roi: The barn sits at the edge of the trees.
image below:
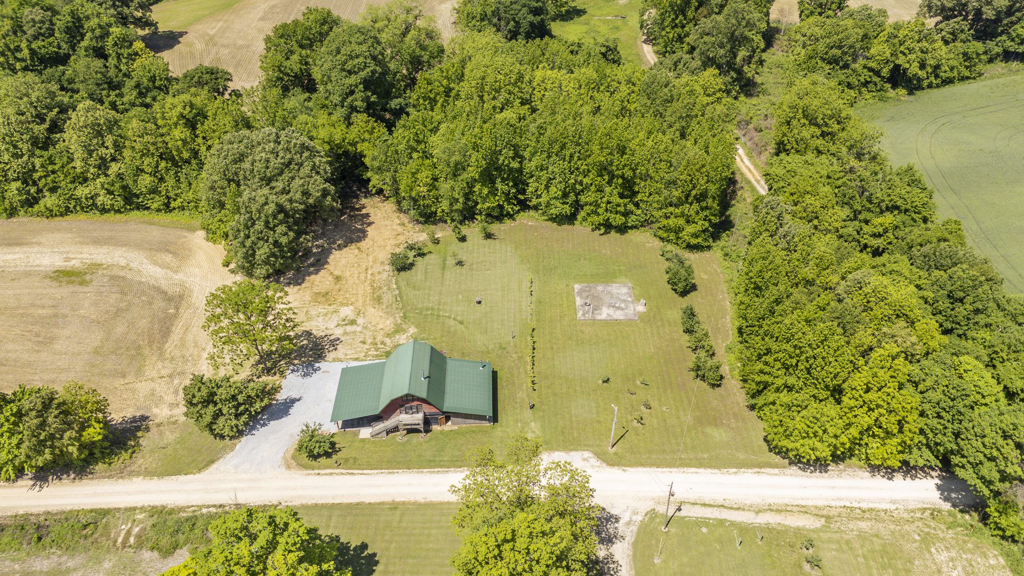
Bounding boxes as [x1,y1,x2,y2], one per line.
[330,339,493,438]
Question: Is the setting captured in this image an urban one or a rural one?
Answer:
rural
